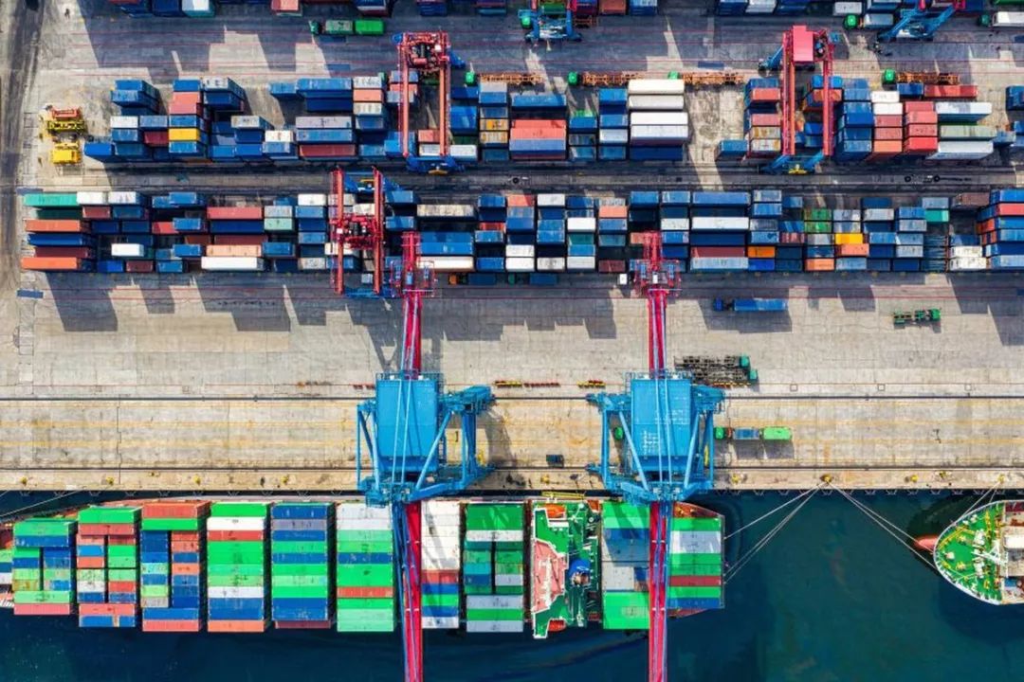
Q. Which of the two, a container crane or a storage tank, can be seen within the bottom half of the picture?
container crane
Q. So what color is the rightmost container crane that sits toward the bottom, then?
blue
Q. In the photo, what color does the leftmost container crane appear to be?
red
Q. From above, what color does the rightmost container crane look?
blue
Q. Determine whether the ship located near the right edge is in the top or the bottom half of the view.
bottom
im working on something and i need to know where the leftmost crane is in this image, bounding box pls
[329,166,413,299]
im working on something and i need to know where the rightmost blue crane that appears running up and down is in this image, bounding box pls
[582,232,727,682]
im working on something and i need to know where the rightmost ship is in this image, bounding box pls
[905,494,1024,608]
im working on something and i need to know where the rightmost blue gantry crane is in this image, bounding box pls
[871,0,968,49]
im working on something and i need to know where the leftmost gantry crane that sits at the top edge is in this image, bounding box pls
[395,30,473,182]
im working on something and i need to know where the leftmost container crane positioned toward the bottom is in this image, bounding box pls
[349,233,507,682]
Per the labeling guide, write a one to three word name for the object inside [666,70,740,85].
vehicle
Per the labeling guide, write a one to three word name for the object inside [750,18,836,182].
container crane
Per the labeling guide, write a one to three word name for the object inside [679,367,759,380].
vehicle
